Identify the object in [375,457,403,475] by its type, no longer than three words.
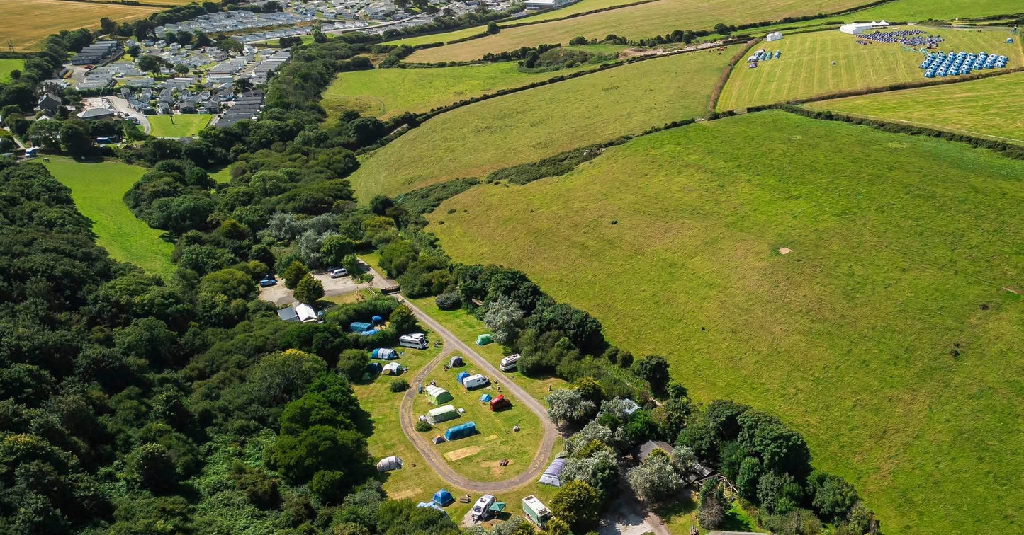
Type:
tent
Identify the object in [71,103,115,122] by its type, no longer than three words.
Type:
house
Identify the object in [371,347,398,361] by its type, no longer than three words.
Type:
tent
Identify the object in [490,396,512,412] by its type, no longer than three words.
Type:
vehicle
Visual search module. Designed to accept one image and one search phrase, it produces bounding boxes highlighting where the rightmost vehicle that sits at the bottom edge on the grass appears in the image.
[523,491,548,530]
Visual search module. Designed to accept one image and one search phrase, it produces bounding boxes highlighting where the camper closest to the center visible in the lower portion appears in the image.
[496,352,523,375]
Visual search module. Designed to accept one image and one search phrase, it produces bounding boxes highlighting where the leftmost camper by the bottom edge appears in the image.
[471,494,494,526]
